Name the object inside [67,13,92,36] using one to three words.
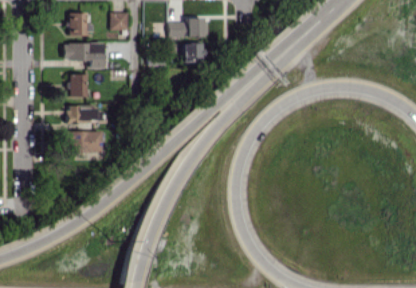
house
